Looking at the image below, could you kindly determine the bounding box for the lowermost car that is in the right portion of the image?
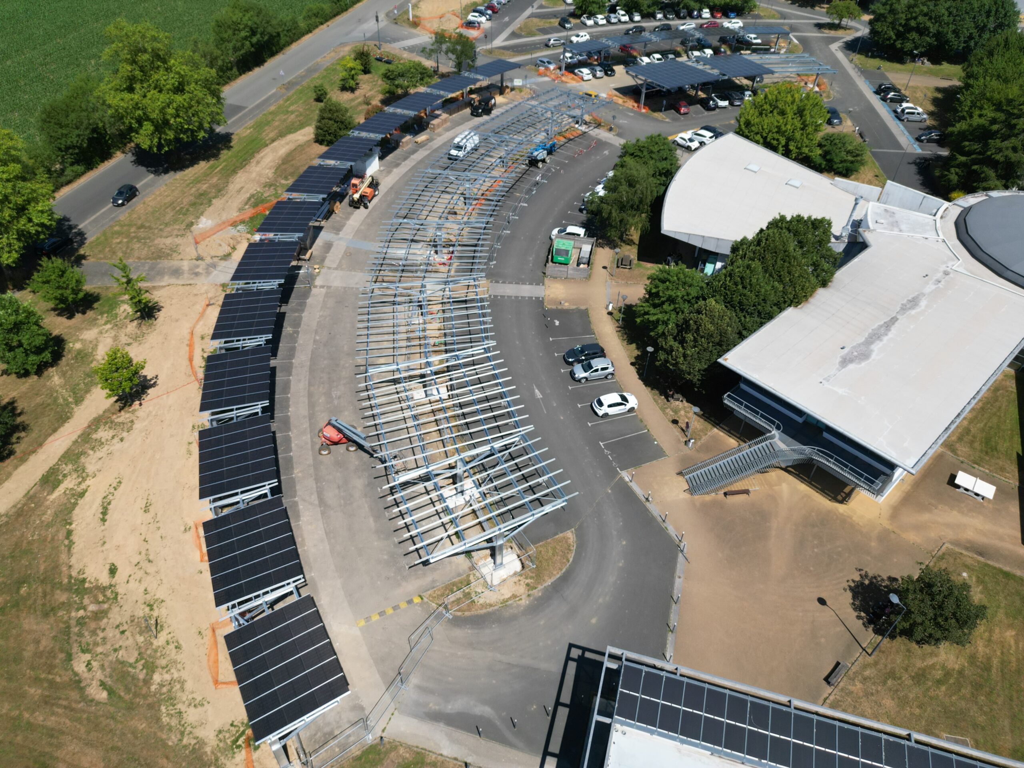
[591,393,639,421]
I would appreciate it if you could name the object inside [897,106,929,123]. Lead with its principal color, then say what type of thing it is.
gray car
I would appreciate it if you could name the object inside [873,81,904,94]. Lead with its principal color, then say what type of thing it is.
black vehicle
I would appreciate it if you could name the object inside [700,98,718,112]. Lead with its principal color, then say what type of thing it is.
black car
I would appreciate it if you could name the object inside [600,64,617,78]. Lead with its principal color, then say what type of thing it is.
black car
